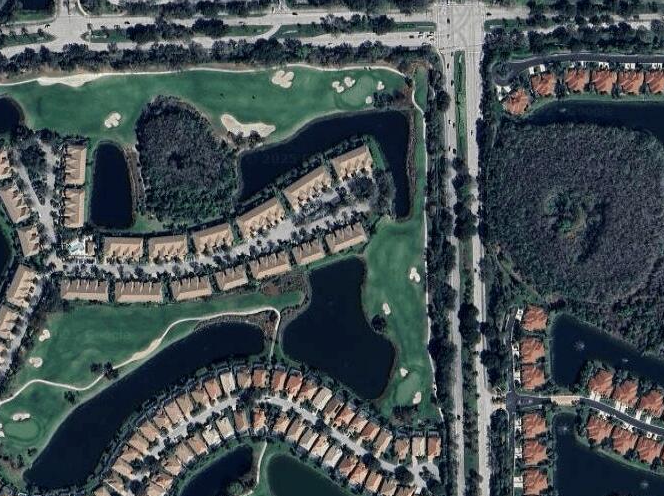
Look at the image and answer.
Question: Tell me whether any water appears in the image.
Yes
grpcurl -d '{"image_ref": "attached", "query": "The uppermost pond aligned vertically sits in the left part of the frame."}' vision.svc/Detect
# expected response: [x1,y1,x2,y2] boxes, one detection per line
[91,142,133,227]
